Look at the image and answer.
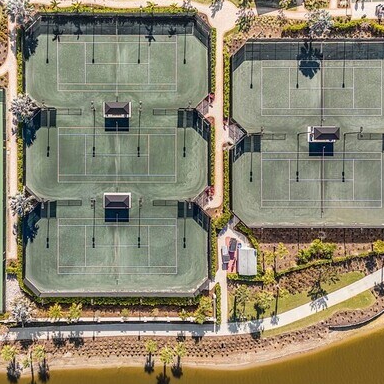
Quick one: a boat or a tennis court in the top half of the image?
tennis court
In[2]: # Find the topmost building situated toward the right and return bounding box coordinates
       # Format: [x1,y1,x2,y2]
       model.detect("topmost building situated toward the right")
[308,126,340,142]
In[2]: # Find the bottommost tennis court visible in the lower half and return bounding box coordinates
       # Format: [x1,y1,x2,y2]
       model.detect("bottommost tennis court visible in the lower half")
[26,200,208,292]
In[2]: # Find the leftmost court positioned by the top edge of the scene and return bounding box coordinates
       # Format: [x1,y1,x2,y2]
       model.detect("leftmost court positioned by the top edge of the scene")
[26,17,208,107]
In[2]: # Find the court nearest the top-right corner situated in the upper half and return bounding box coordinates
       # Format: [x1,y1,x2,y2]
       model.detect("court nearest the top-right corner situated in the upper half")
[229,43,384,133]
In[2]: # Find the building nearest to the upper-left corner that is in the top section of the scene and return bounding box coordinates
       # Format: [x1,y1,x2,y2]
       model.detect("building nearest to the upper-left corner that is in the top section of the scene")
[103,102,131,117]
